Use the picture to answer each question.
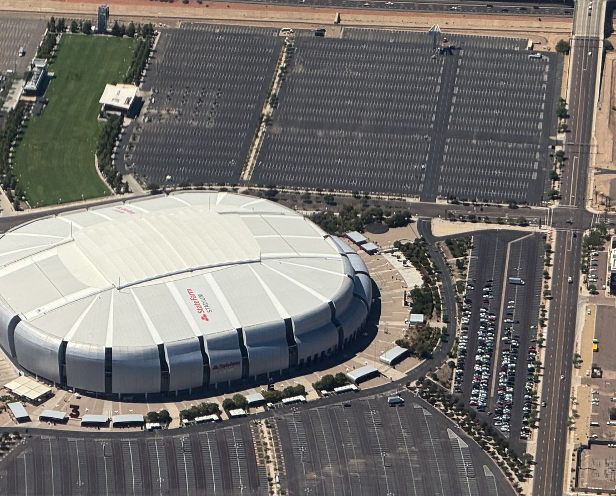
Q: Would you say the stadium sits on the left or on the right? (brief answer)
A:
left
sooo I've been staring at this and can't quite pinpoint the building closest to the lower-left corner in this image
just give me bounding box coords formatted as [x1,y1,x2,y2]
[4,375,51,401]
